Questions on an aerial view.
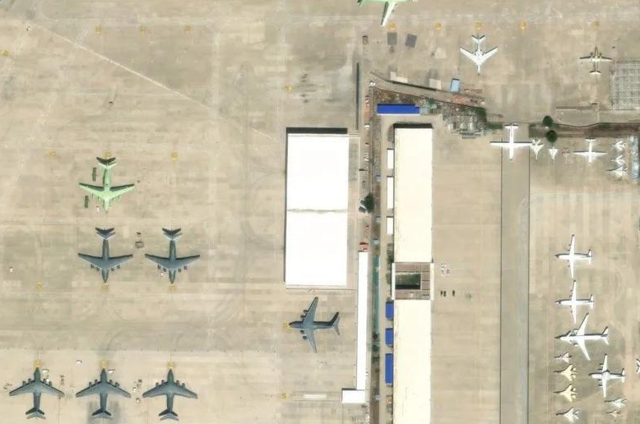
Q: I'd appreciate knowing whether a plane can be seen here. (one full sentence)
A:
Yes, a plane is visible in the scene.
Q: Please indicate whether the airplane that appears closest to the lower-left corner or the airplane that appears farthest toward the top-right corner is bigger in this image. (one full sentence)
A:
The airplane that appears closest to the lower-left corner takes up more space than the airplane that appears farthest toward the top-right corner.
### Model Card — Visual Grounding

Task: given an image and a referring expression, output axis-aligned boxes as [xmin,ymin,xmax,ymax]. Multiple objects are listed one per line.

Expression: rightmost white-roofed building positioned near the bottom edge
[393,301,431,424]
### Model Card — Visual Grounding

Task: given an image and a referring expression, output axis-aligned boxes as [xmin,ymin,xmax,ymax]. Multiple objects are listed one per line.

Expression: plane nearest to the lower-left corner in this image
[9,368,64,420]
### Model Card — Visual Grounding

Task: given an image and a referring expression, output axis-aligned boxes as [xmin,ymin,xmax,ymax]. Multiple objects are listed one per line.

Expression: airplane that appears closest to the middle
[289,296,339,352]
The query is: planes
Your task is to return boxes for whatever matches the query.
[143,369,198,421]
[614,142,628,150]
[529,137,545,158]
[590,355,626,397]
[460,36,498,75]
[607,164,628,180]
[557,364,576,381]
[557,281,594,324]
[556,385,577,401]
[606,394,627,411]
[579,46,613,72]
[608,411,621,418]
[78,161,133,212]
[289,296,339,352]
[145,233,200,284]
[558,314,612,361]
[558,408,579,424]
[548,146,559,160]
[612,156,627,164]
[574,139,607,164]
[491,125,533,160]
[375,0,407,26]
[76,368,131,420]
[77,233,133,283]
[556,236,593,278]
[557,354,572,363]
[9,368,64,420]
